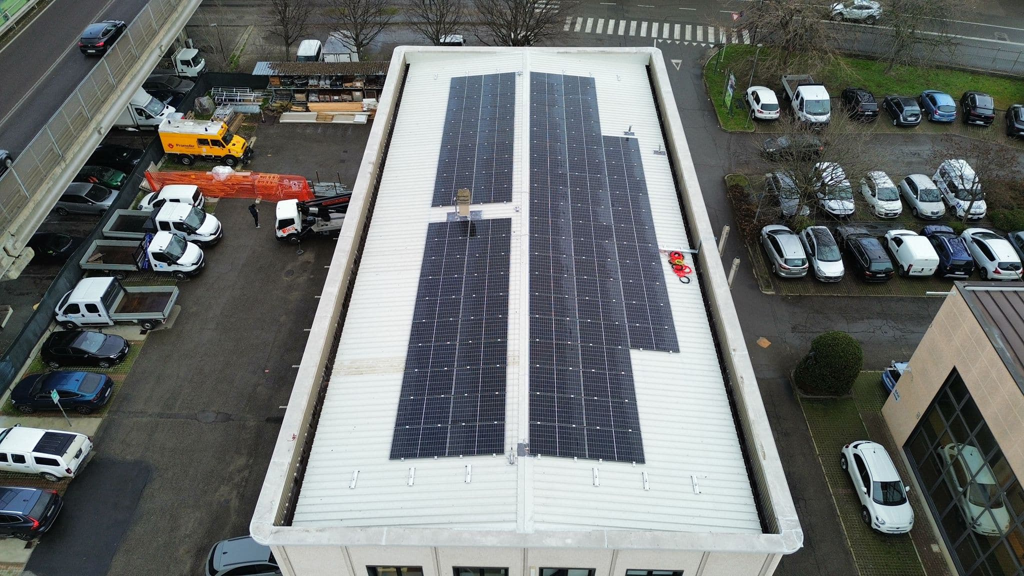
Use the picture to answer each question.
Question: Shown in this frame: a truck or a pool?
truck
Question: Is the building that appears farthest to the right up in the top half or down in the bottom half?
bottom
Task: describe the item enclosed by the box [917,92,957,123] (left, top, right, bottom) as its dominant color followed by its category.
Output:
blue car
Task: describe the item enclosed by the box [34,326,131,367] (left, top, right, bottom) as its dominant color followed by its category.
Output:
black car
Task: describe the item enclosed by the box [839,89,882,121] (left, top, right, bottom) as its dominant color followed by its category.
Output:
black car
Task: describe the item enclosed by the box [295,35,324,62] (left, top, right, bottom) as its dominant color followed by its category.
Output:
white vehicle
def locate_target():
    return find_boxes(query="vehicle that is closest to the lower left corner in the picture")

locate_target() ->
[0,485,62,541]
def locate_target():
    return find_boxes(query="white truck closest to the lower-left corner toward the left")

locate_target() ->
[0,424,95,479]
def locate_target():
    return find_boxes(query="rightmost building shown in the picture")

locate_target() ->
[885,283,1024,576]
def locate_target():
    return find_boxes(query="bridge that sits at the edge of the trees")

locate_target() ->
[0,0,226,328]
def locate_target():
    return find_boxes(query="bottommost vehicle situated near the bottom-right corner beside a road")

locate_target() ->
[841,445,913,541]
